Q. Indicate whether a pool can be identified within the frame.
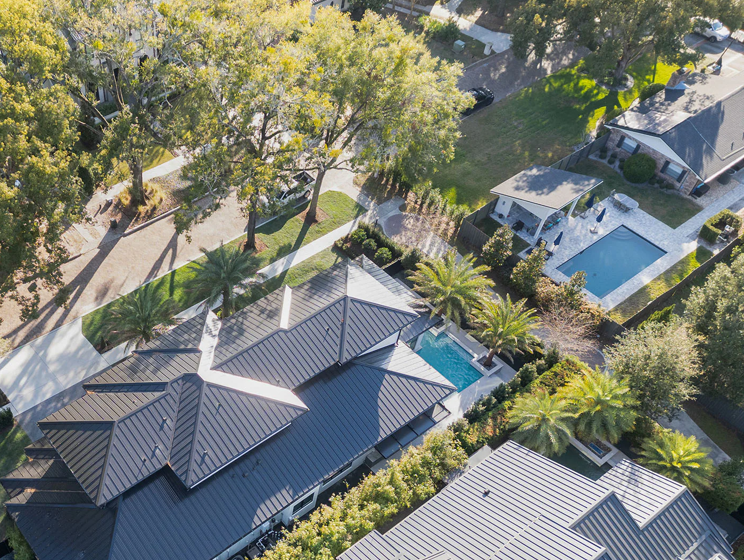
Yes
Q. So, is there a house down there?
Yes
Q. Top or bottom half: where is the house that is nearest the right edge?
top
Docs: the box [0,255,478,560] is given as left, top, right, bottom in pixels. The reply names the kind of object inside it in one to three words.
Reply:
house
